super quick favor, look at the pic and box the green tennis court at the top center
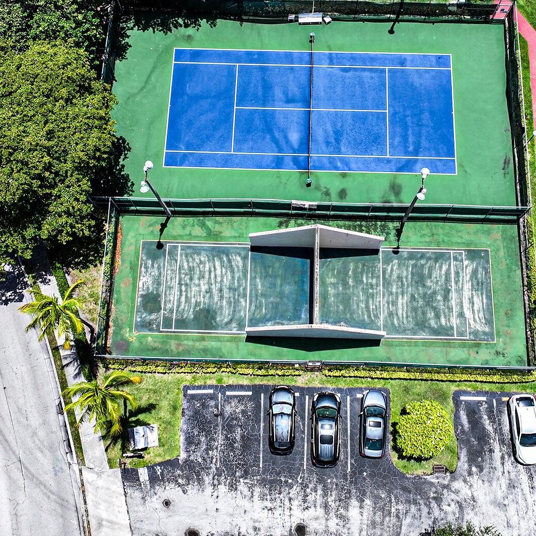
[101,12,517,217]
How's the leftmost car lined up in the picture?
up and down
